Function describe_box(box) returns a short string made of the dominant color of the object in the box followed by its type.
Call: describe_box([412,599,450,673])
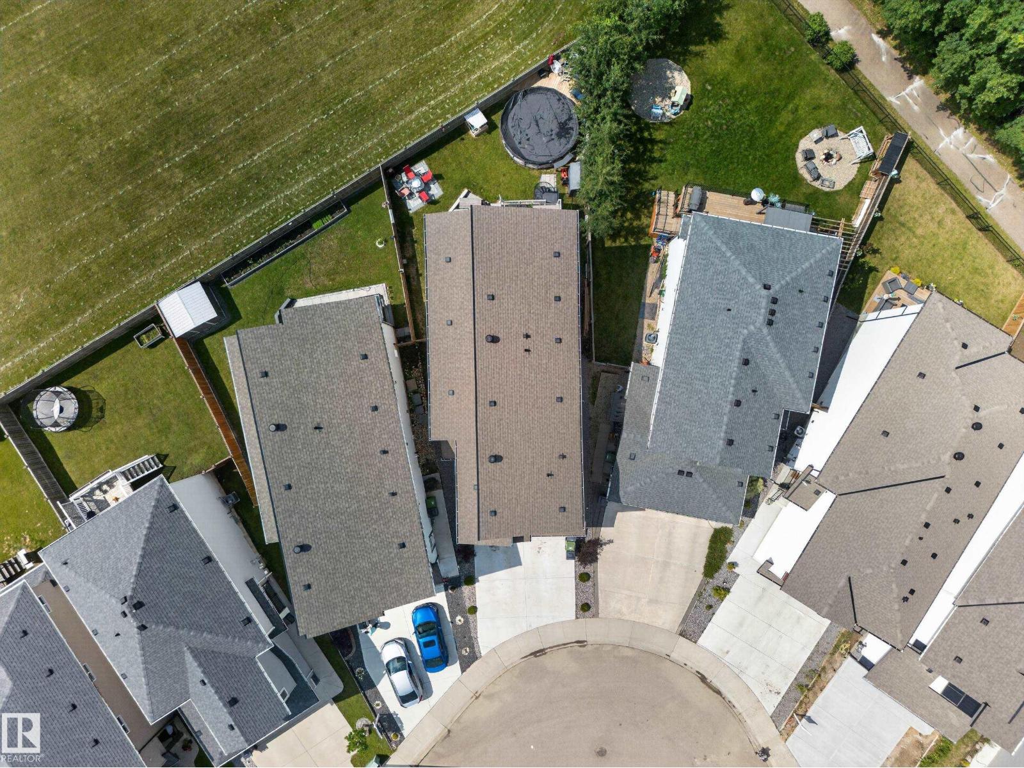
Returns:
blue car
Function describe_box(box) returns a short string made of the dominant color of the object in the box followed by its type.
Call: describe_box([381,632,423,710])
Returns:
white car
